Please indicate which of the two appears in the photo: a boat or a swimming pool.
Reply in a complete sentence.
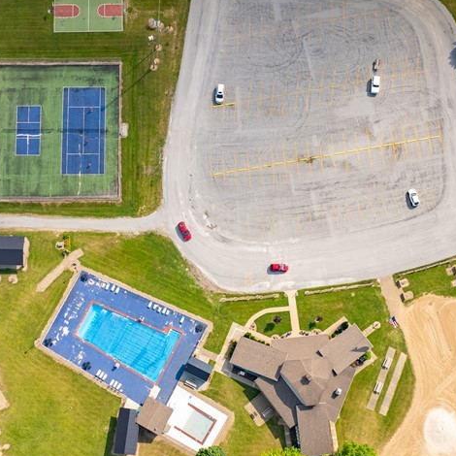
The image shows a swimming pool.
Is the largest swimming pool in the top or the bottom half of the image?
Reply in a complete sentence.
The largest swimming pool sits in the bottom half of the picture.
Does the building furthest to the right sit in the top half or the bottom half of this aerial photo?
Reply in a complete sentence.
The building furthest to the right sits in the bottom half of the picture.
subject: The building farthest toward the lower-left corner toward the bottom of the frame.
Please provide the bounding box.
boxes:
[113,408,140,456]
